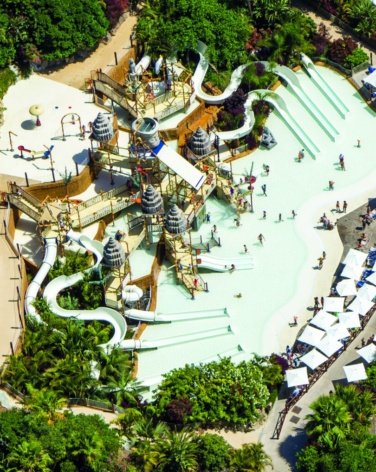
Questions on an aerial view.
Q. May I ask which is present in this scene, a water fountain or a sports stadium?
water fountain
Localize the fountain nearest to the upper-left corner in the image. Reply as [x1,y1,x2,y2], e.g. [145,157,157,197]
[23,99,50,128]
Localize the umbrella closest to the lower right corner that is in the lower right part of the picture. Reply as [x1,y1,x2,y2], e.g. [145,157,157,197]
[342,365,368,390]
